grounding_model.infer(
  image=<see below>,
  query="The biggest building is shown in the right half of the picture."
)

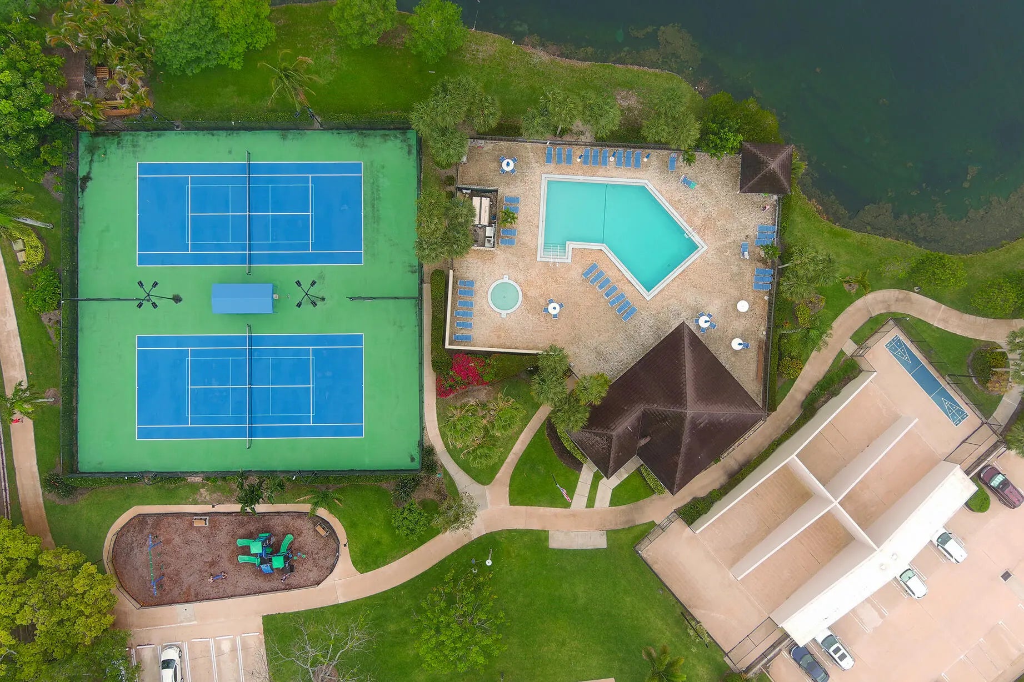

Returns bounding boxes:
[565,321,768,496]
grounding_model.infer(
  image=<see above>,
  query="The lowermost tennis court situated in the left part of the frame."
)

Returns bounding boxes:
[77,300,422,472]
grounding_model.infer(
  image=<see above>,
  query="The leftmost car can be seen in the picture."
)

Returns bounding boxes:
[158,647,184,682]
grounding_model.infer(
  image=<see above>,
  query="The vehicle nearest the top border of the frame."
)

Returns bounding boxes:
[979,464,1024,509]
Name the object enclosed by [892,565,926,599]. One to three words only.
car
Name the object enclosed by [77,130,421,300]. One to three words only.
tennis court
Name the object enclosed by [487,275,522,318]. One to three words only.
swimming pool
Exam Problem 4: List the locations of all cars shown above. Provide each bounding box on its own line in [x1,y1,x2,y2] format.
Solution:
[792,644,833,682]
[813,628,855,671]
[929,526,967,564]
[158,647,184,682]
[979,464,1024,509]
[892,565,926,599]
